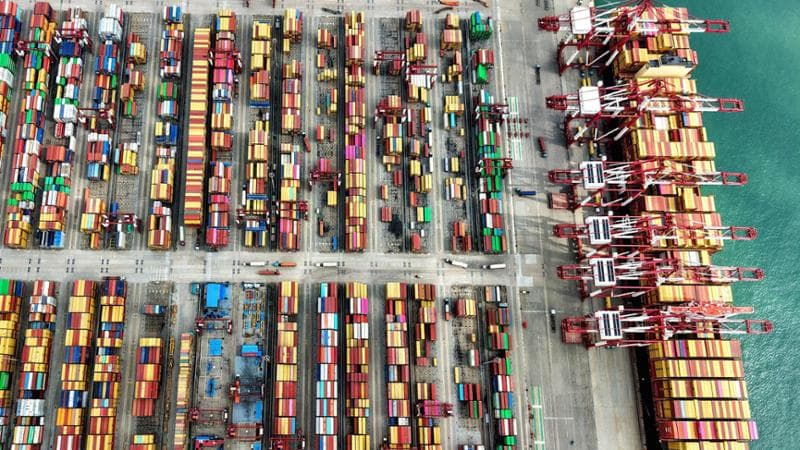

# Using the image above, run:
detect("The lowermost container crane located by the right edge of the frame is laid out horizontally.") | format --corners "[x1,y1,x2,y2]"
[563,299,774,352]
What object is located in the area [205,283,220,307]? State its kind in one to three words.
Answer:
shed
